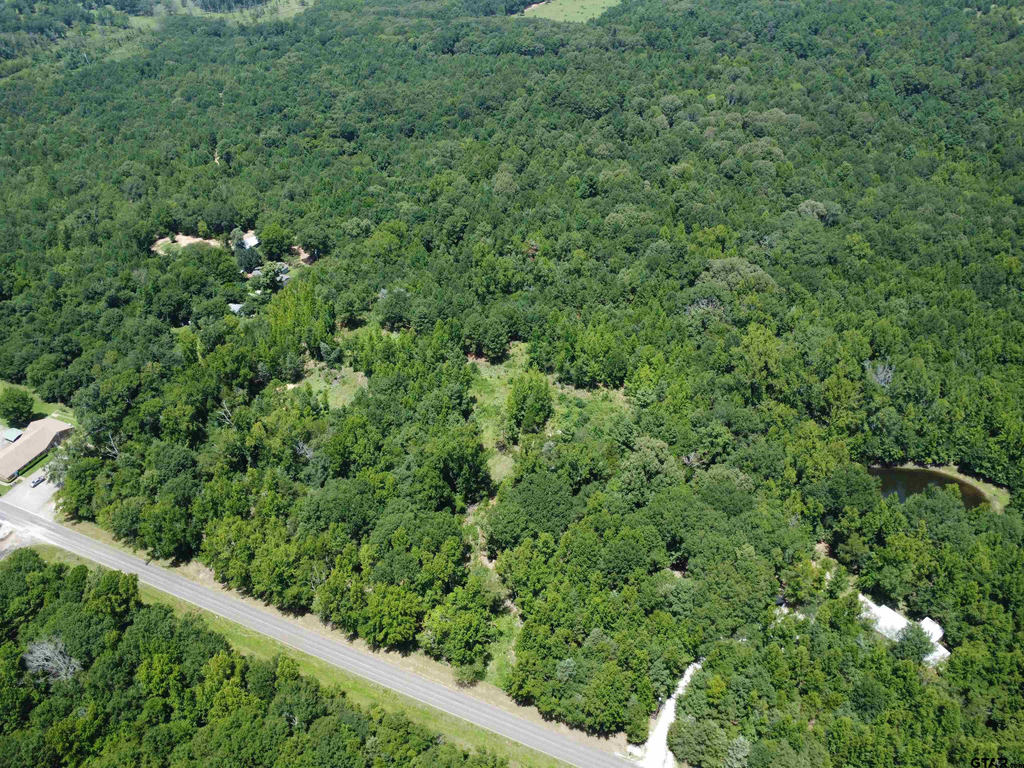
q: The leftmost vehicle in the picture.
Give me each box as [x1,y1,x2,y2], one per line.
[29,476,47,488]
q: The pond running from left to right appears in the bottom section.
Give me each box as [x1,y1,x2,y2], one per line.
[864,467,990,517]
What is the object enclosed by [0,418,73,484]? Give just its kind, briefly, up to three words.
building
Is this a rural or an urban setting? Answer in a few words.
rural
